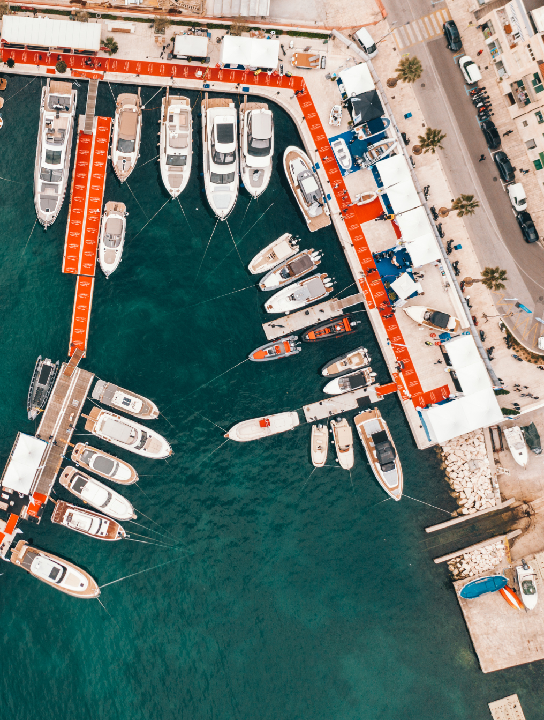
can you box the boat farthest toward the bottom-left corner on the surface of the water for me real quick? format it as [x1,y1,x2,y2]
[12,540,101,601]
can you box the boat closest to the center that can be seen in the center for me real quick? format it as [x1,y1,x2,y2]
[250,339,300,363]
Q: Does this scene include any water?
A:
Yes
